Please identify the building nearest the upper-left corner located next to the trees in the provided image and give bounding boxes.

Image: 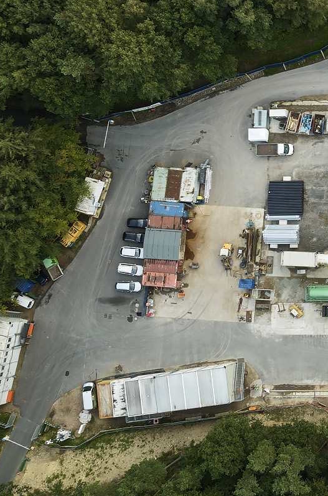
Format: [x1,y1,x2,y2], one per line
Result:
[76,177,113,216]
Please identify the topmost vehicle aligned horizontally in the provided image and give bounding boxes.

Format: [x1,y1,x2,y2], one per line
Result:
[257,142,294,156]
